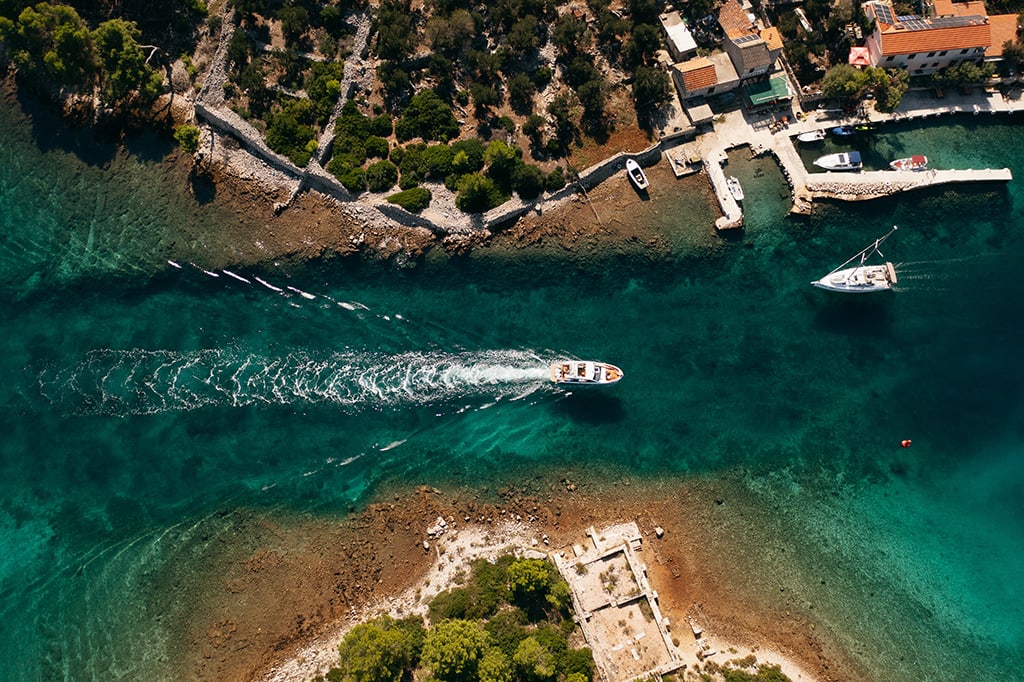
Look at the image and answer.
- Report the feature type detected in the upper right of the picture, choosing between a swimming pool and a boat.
boat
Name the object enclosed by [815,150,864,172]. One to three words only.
boat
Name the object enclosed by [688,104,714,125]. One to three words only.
shed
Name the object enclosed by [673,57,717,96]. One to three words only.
house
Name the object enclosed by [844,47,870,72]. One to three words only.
gazebo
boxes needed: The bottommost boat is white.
[547,358,623,386]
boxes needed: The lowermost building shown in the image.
[551,523,687,682]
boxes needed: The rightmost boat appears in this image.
[884,153,932,171]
